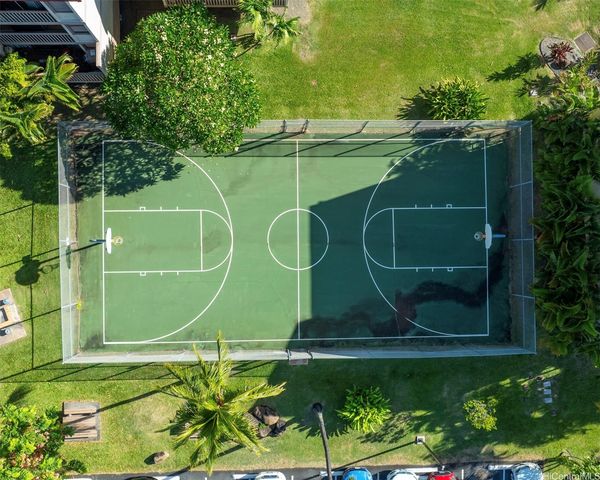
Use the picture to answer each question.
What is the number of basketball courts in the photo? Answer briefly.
1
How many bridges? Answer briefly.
0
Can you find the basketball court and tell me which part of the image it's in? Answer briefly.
center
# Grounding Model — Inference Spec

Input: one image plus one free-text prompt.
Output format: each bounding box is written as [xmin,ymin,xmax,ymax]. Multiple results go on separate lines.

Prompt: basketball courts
[79,132,511,352]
